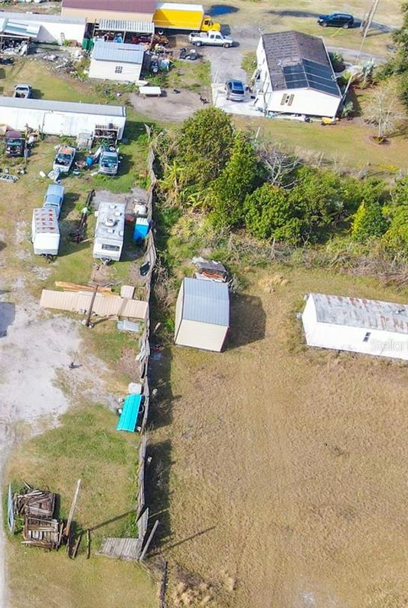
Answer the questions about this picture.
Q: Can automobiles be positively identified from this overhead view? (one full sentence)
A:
Yes, the photo shows an automobile.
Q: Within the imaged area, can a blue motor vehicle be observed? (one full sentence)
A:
Yes, the image includes a blue motor vehicle.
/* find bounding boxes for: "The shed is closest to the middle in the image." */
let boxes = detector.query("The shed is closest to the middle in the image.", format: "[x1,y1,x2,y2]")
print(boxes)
[173,284,235,351]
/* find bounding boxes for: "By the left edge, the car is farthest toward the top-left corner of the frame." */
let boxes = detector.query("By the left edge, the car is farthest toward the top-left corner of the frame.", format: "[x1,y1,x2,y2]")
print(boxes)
[14,84,32,102]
